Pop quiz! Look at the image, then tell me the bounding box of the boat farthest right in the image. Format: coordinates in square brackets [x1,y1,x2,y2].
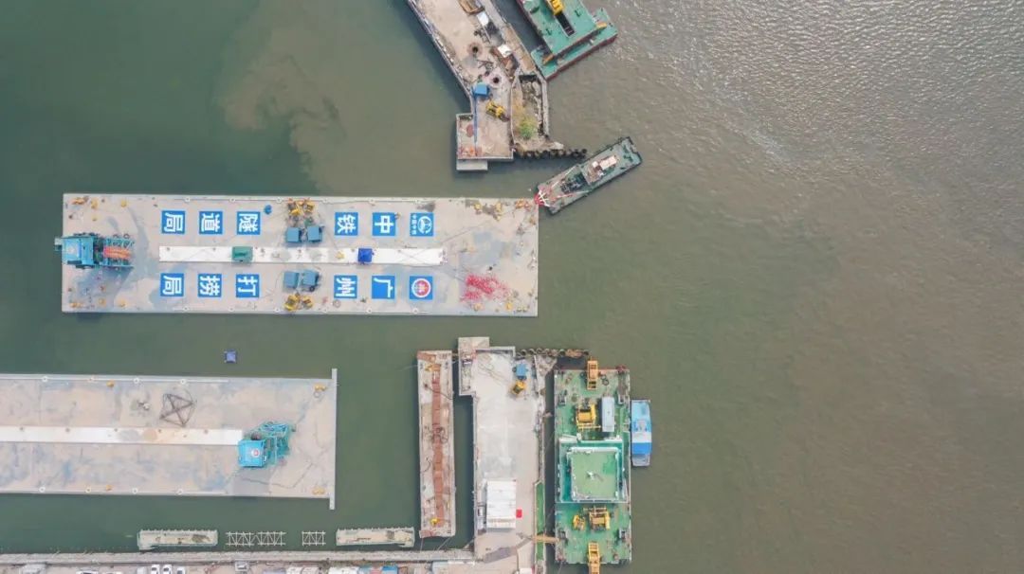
[631,400,652,466]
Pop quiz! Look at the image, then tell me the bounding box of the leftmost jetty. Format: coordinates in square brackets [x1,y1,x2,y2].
[137,529,219,550]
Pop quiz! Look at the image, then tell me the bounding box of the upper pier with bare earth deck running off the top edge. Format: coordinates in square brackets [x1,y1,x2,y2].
[407,0,561,173]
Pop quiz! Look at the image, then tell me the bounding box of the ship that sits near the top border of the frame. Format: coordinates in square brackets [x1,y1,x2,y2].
[516,0,617,81]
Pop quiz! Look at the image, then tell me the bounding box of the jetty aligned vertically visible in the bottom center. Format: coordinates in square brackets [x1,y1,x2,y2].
[458,337,555,574]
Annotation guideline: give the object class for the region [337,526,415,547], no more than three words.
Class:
pier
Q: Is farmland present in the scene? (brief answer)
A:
No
